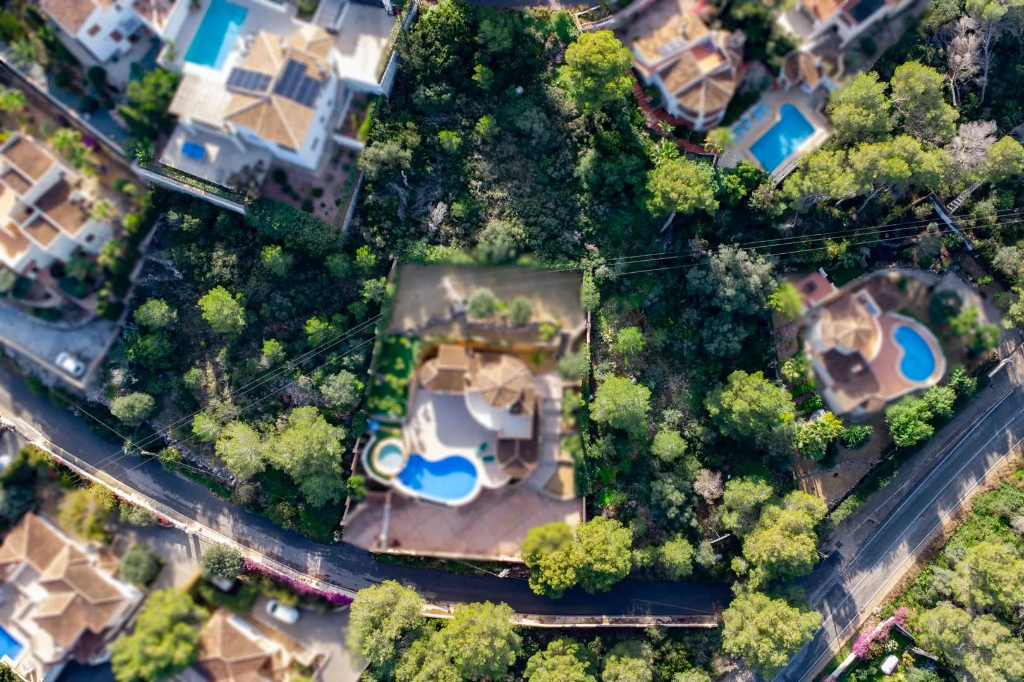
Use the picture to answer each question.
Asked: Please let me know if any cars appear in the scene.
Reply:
Yes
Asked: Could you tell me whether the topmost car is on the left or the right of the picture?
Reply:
left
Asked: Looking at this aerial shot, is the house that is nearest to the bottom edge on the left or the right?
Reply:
left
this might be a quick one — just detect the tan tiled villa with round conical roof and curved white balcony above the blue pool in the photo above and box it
[417,345,540,479]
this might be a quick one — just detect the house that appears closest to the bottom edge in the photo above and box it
[193,605,317,682]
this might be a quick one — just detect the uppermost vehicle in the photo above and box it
[56,350,91,377]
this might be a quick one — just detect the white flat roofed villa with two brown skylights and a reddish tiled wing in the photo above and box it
[41,0,163,77]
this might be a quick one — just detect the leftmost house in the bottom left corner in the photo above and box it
[0,508,156,663]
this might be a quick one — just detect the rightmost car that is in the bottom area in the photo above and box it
[268,597,303,624]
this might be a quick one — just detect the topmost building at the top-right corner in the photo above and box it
[774,0,908,59]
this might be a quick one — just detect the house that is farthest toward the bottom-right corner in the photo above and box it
[802,287,884,420]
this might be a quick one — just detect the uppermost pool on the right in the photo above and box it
[741,95,824,182]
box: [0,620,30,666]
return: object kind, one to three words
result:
swimming pool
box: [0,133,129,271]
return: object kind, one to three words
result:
house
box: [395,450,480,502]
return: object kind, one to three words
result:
swimming pool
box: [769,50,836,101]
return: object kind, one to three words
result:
building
